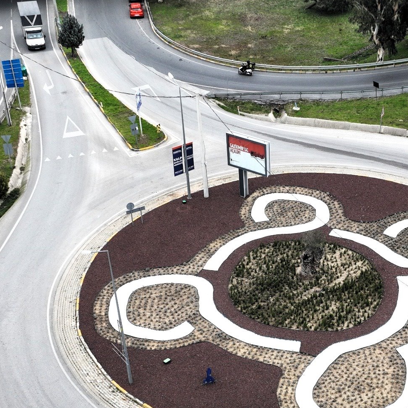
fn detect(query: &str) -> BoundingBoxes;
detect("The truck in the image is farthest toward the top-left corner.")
[19,2,45,48]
